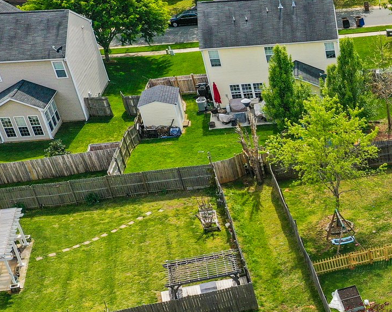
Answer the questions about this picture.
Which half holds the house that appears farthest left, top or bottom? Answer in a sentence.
The house that appears farthest left sits in the top half of the picture.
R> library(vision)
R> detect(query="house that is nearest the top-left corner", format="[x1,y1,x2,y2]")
[0,6,110,140]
